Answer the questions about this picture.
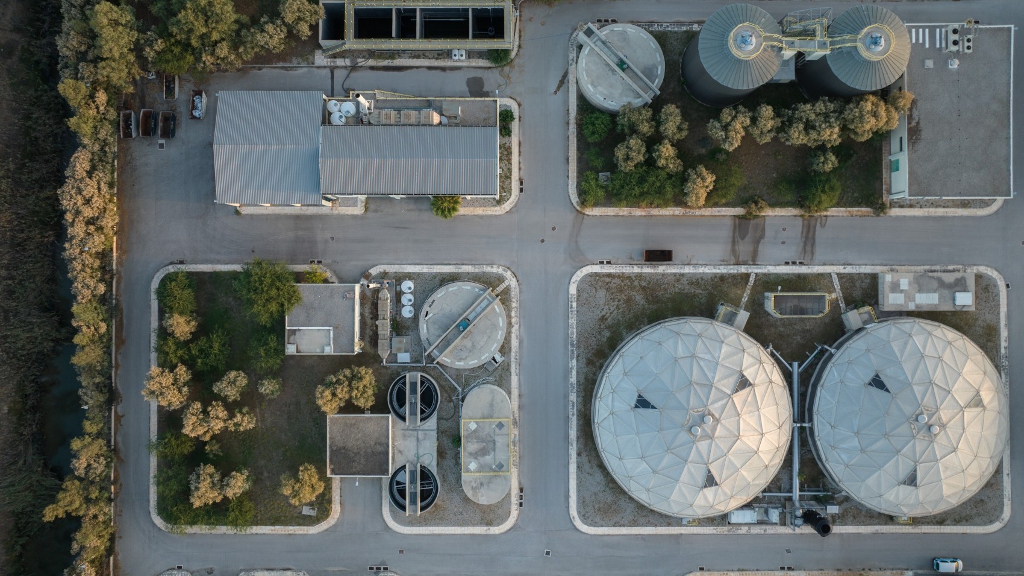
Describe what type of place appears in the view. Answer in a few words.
industrial area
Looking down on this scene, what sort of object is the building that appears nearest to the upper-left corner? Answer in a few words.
warehouse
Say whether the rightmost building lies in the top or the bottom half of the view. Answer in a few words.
top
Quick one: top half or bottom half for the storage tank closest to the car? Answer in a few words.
bottom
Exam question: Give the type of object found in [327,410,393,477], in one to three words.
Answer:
shed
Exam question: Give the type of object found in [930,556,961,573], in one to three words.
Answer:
car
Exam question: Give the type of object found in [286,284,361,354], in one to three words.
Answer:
building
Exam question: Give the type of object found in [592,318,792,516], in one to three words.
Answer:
storage tank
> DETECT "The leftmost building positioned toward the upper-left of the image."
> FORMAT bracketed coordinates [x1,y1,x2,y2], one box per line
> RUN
[212,90,332,207]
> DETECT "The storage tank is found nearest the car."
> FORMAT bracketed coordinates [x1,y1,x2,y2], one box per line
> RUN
[803,316,1009,515]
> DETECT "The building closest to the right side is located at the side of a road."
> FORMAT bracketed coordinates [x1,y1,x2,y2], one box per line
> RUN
[890,24,1018,202]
